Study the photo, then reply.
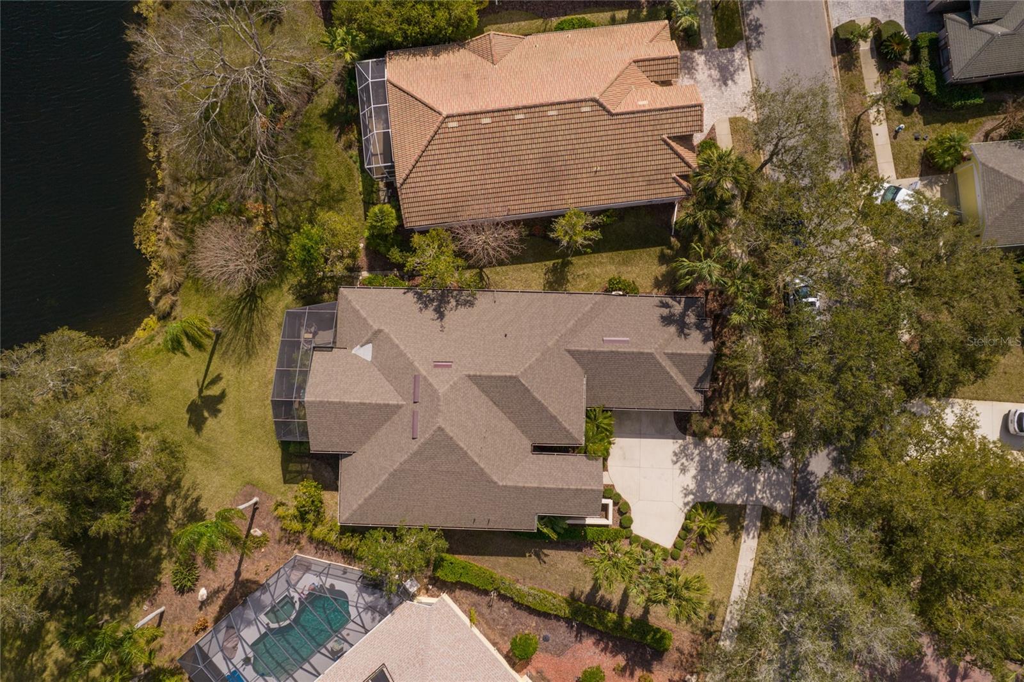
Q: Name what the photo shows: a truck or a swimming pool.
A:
swimming pool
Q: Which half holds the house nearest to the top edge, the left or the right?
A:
right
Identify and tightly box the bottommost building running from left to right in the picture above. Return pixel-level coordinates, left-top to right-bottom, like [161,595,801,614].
[308,583,545,682]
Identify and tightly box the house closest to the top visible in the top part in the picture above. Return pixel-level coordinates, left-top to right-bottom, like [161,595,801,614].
[910,0,1024,91]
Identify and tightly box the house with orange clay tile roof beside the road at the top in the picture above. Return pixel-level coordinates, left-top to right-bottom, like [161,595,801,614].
[385,18,704,235]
